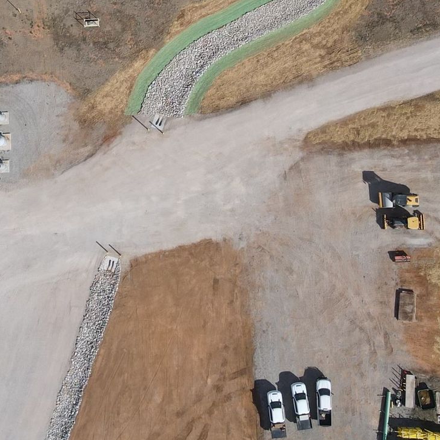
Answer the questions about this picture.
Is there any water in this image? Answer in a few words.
No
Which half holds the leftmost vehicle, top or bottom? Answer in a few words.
bottom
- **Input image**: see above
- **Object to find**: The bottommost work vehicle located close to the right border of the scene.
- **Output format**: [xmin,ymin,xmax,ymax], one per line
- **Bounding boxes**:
[385,215,427,232]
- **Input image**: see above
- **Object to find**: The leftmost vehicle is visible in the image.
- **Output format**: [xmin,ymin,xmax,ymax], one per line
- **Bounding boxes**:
[267,389,288,440]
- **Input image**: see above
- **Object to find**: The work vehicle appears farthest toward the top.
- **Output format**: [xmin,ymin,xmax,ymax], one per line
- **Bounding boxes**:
[379,192,424,209]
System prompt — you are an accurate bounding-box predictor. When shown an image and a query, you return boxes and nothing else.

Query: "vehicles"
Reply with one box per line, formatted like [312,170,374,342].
[290,381,314,433]
[267,389,288,440]
[385,215,427,232]
[316,375,335,429]
[379,192,424,209]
